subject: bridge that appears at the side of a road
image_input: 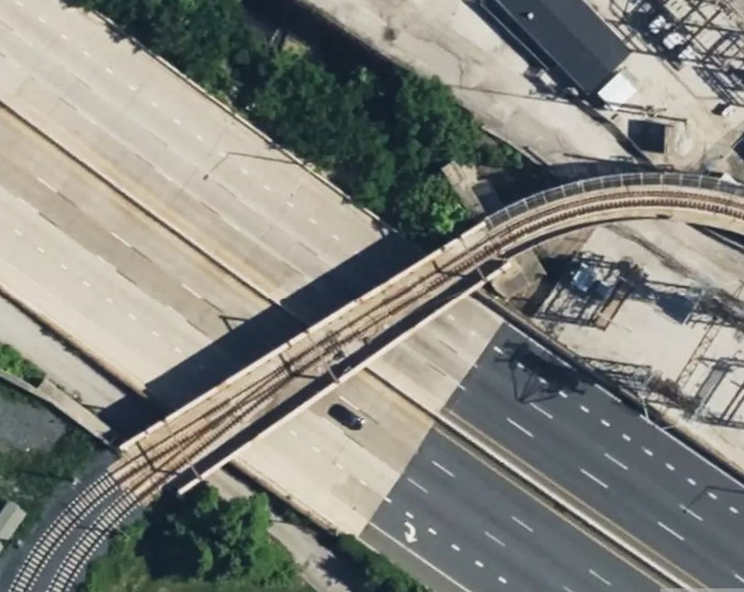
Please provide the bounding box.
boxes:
[104,171,744,507]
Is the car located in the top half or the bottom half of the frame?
bottom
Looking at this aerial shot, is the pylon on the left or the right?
right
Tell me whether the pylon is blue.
No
